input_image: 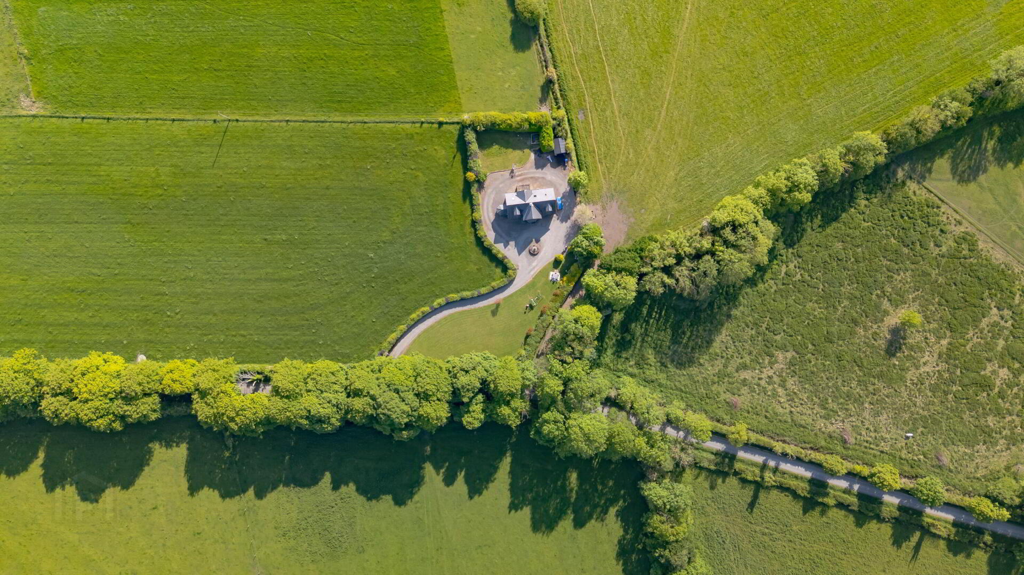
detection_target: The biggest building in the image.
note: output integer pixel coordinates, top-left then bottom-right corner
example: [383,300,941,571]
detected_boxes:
[496,187,559,223]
